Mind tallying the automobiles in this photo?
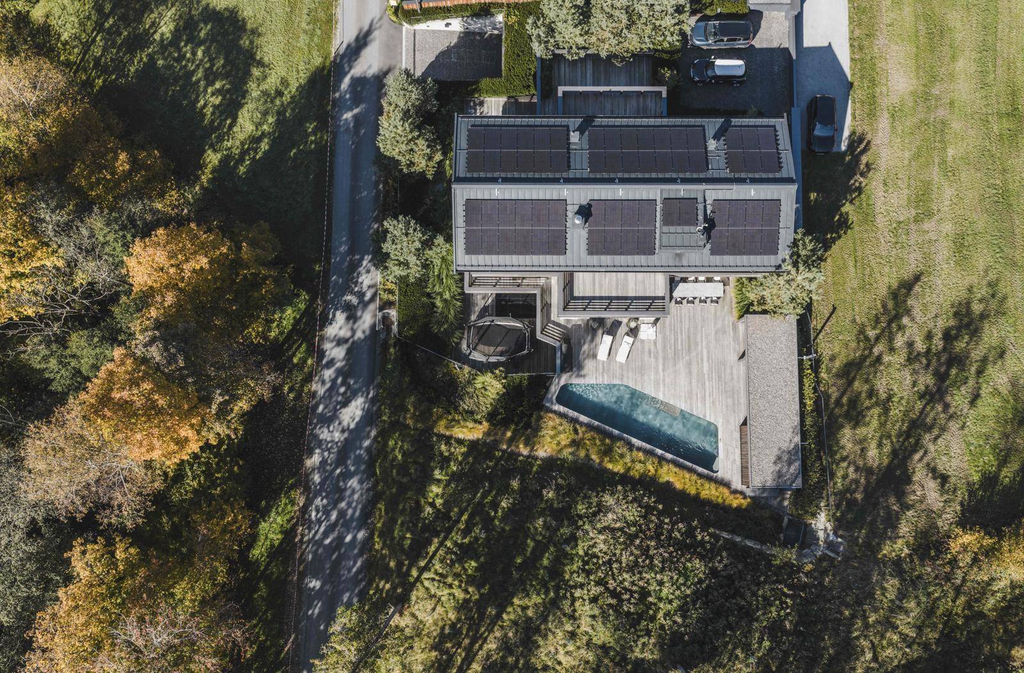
3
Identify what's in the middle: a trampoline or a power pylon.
trampoline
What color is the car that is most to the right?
black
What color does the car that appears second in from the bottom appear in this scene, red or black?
black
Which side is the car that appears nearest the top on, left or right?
right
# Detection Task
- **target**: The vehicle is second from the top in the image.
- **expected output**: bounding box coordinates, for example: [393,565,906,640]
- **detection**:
[688,58,746,88]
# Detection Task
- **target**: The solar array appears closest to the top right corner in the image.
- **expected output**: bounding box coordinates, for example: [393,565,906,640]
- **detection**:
[725,127,781,173]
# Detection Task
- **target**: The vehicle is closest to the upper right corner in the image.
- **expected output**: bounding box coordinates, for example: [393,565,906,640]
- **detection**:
[805,96,837,155]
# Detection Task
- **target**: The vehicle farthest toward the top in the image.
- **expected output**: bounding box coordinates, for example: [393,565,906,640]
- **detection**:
[689,19,753,52]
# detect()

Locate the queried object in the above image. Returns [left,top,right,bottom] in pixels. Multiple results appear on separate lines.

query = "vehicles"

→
[805,96,837,155]
[689,19,753,52]
[688,58,746,88]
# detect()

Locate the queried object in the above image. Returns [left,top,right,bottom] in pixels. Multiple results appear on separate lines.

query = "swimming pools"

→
[557,384,717,473]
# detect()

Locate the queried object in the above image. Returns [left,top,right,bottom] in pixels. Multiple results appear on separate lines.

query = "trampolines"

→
[465,318,532,362]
